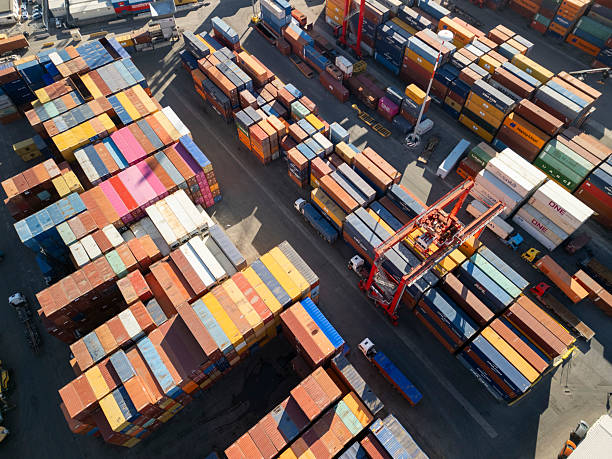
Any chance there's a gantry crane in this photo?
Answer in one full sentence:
Yes, the photo shows a gantry crane.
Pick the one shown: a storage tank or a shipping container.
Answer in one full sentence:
The image shows a shipping container.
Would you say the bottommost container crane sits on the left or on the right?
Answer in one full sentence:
The bottommost container crane sits on the right side.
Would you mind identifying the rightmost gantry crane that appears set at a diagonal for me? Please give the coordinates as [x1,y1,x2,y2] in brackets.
[356,174,510,325]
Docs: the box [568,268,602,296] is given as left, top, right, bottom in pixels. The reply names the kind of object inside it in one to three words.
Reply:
shipping container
